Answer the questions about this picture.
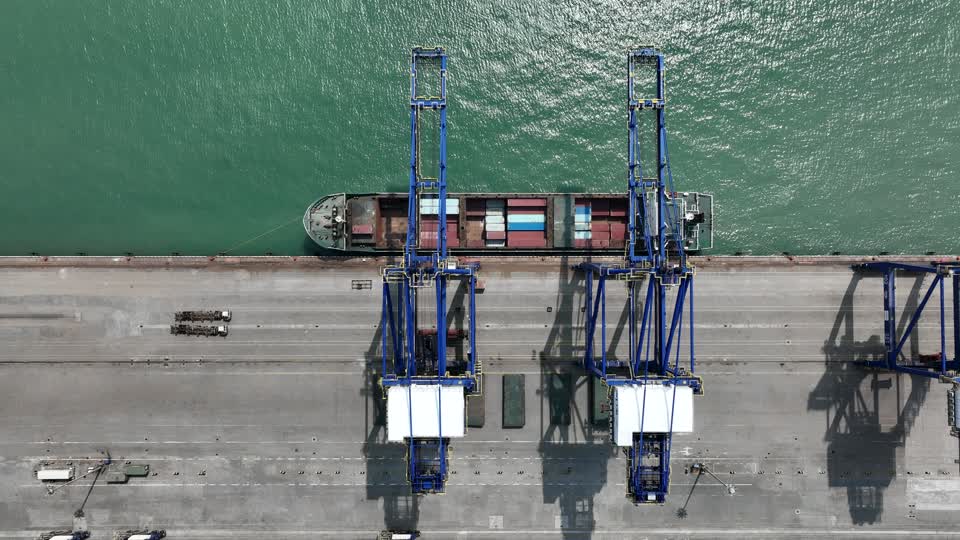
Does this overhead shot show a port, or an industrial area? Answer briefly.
port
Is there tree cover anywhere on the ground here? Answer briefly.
No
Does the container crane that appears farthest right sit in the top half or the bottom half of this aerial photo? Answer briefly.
bottom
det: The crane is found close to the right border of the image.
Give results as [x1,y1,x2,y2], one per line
[851,247,960,488]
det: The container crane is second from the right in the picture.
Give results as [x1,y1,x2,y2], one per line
[571,43,712,502]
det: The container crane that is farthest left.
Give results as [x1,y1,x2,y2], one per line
[375,43,486,491]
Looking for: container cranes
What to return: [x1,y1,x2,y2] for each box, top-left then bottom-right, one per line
[375,43,486,491]
[851,247,960,488]
[571,43,712,502]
